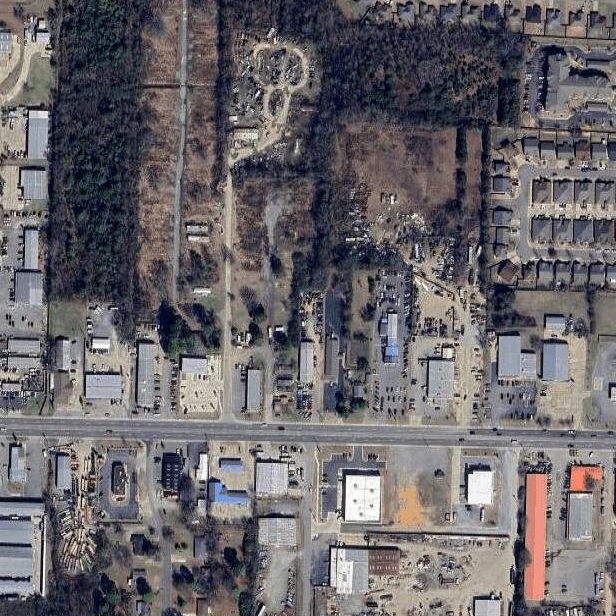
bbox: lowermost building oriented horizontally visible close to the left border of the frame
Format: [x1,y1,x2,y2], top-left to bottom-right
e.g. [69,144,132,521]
[0,579,31,594]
